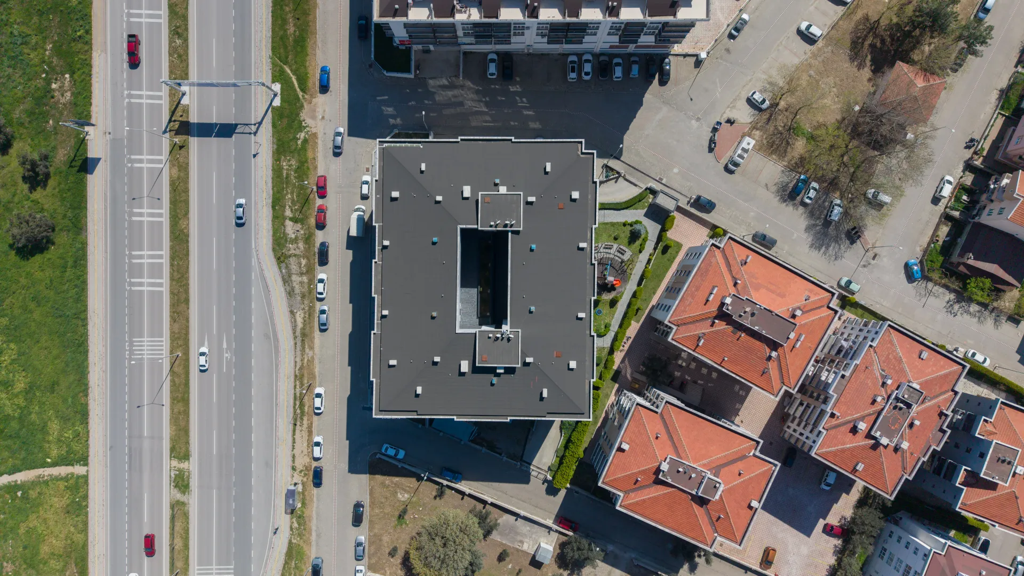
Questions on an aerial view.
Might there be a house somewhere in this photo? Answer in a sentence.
Yes, a house can be made out from above.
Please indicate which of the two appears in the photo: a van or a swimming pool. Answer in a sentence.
The image shows a van.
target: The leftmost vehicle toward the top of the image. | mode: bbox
[126,36,141,66]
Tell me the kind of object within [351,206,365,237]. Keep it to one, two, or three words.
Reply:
vehicle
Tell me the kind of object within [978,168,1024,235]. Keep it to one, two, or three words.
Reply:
house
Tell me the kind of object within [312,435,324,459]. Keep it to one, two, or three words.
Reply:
vehicle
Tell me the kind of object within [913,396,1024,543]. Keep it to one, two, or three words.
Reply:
building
